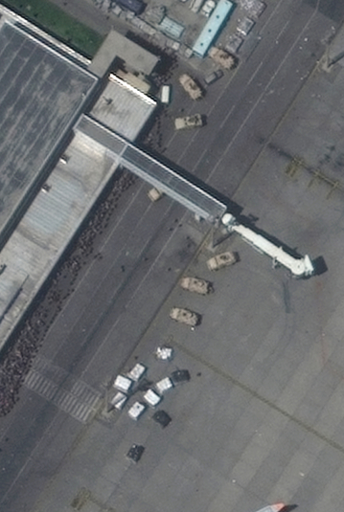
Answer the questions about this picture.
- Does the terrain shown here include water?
No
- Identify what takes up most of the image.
paved ground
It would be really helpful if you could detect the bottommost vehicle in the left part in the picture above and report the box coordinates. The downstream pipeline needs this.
[126,445,144,464]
